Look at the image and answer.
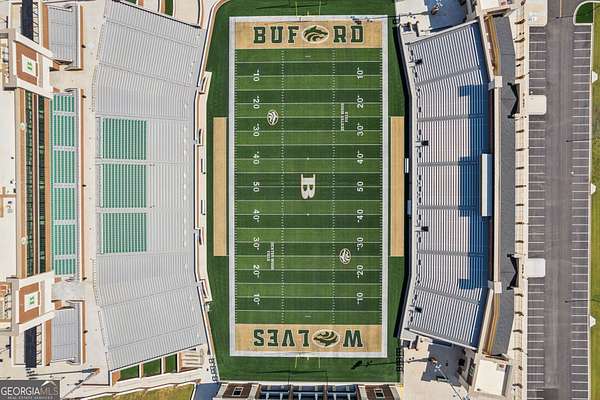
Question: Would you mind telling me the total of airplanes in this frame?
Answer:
0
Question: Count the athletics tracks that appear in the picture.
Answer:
none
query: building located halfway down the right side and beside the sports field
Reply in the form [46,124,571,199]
[465,8,523,362]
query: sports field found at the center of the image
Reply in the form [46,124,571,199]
[213,16,404,355]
